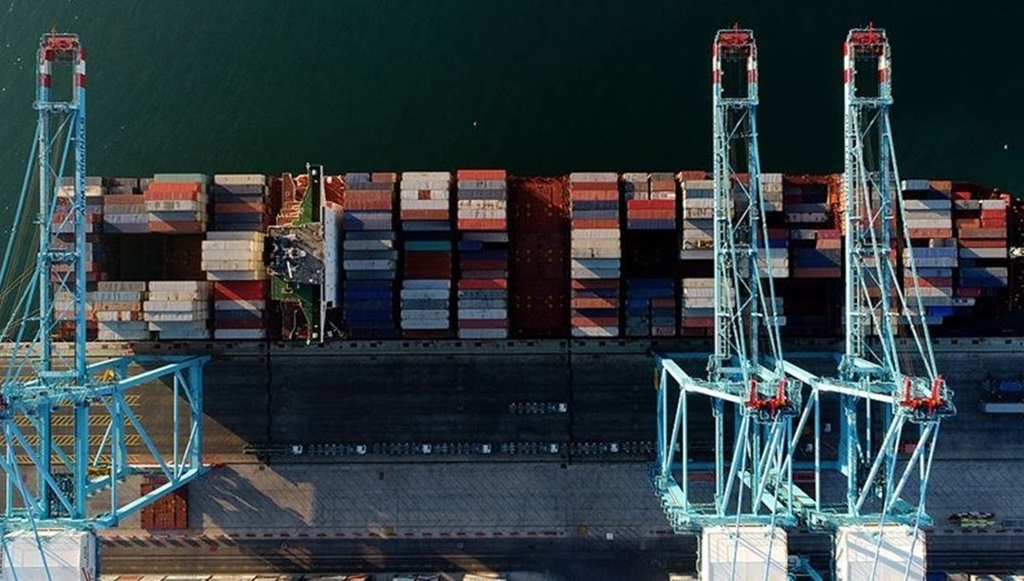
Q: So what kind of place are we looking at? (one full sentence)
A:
This image shows a port.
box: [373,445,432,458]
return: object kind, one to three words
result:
vehicle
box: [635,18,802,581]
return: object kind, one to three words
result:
container crane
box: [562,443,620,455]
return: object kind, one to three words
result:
vehicle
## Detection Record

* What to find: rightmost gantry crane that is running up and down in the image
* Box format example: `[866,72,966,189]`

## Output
[742,17,953,581]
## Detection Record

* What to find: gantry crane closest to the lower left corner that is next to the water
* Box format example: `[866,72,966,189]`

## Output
[0,22,223,581]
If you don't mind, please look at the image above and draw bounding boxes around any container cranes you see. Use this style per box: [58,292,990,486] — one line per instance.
[0,22,223,581]
[742,17,953,581]
[635,18,802,581]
